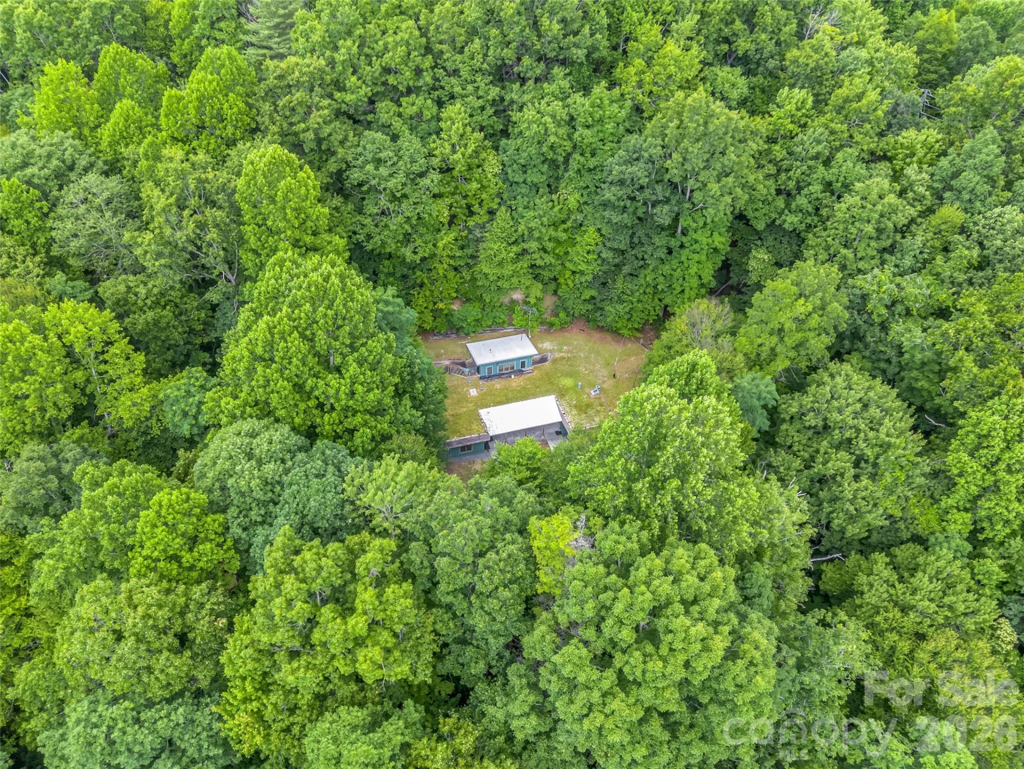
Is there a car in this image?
No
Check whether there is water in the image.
No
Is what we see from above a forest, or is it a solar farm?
forest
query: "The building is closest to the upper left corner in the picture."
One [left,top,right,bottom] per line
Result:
[466,332,539,380]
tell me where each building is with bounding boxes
[434,394,567,468]
[466,332,539,380]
